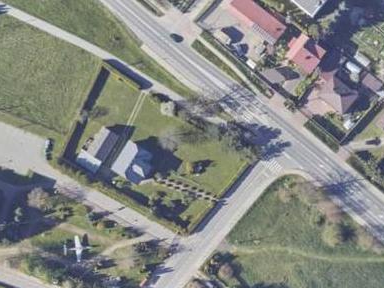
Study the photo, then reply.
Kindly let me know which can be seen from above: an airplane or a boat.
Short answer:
airplane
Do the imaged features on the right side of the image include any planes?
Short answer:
No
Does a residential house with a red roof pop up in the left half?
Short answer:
No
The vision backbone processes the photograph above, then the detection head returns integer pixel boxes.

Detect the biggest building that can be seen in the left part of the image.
[110,139,155,184]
